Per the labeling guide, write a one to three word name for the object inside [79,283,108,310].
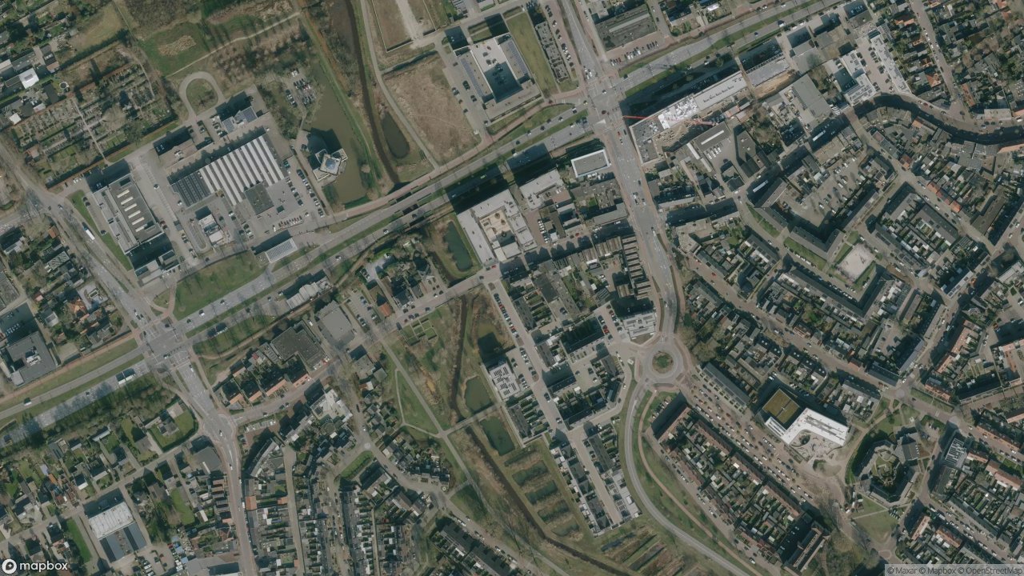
house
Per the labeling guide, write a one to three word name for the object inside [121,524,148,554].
house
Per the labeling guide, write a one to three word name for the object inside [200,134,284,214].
building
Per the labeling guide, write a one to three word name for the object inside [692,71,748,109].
building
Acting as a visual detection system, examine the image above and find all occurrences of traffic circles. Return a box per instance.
[643,342,684,382]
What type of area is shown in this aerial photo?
residential area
